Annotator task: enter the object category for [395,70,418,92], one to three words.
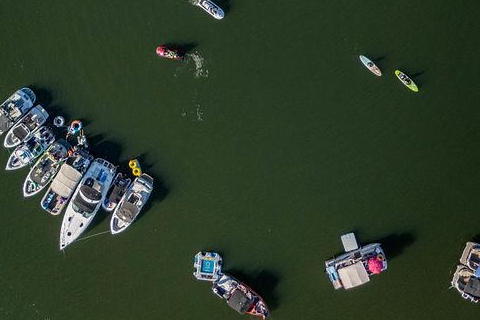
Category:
boat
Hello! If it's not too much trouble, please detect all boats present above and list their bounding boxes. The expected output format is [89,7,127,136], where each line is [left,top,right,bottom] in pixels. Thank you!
[210,266,268,320]
[108,172,159,237]
[39,146,95,217]
[444,263,480,308]
[197,0,225,18]
[395,70,418,92]
[23,138,76,198]
[105,169,135,208]
[4,101,52,147]
[6,124,61,172]
[59,155,120,254]
[0,85,39,134]
[323,242,391,295]
[156,47,187,60]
